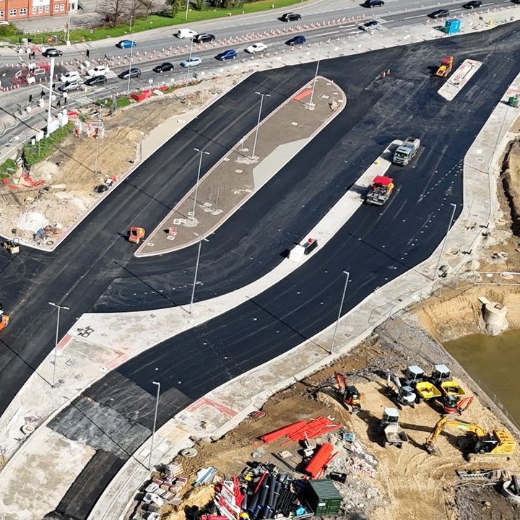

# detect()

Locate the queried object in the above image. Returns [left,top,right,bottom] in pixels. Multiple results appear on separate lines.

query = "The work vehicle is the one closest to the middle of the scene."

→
[129,224,147,244]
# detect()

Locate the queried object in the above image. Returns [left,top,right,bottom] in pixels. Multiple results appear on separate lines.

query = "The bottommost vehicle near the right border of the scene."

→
[426,411,508,456]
